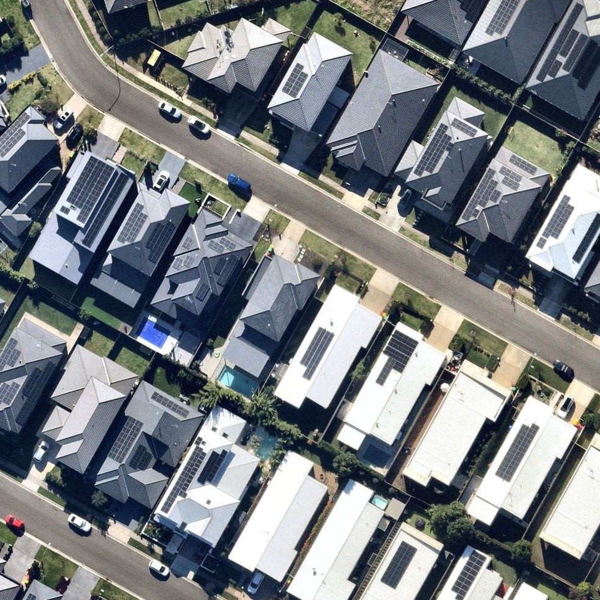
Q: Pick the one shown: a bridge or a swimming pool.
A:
swimming pool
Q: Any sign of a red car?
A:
Yes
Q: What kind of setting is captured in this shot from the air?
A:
residential area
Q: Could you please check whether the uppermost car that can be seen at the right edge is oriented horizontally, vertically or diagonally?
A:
diagonally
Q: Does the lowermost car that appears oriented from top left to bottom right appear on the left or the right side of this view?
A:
left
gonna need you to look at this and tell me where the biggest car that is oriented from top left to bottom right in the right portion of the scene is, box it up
[551,360,576,380]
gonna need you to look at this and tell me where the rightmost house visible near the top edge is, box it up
[526,0,600,121]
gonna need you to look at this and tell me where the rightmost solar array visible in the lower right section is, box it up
[498,425,539,482]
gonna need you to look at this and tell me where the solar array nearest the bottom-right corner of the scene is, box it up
[447,550,488,600]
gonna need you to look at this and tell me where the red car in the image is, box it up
[3,514,27,532]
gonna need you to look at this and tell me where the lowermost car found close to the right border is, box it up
[557,393,575,420]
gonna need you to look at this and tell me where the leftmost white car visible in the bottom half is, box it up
[32,439,50,462]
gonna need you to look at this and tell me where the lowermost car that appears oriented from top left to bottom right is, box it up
[146,557,171,577]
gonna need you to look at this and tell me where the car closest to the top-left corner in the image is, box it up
[17,0,32,18]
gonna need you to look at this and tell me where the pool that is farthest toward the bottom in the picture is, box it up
[370,494,390,510]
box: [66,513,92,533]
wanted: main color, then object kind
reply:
white car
